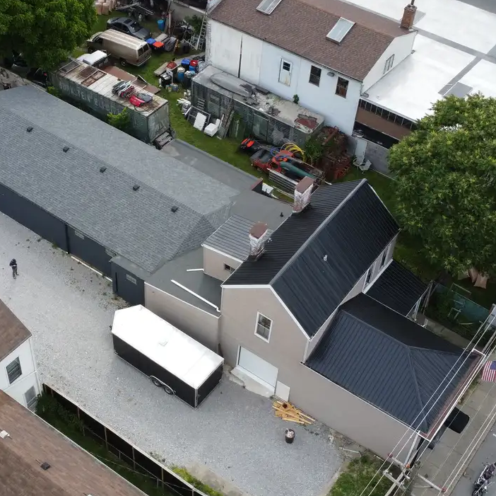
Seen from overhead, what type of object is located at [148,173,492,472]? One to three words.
house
